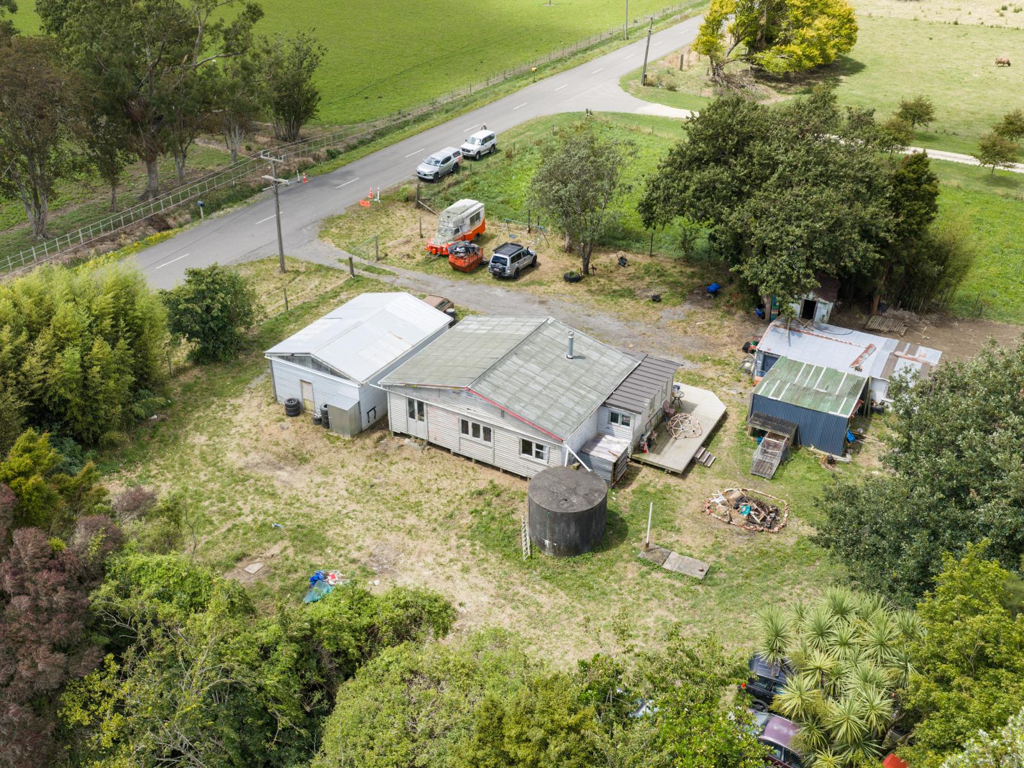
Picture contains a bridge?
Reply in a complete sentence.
No, no bridge is visible in the scene.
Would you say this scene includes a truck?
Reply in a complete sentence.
Yes, I can see a truck in this picture.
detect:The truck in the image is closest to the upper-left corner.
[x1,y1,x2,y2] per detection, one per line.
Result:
[412,146,464,180]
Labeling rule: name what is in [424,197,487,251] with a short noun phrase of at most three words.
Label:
truck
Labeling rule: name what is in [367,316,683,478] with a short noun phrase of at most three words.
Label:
house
